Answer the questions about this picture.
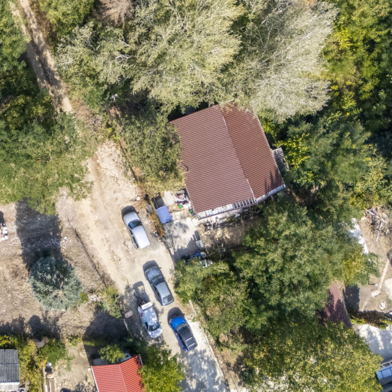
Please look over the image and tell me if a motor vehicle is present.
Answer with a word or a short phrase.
Yes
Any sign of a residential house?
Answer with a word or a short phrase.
Yes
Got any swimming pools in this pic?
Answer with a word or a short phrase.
No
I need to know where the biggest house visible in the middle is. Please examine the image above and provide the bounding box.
[164,103,286,219]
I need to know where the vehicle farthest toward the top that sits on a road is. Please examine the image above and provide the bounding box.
[124,210,151,252]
